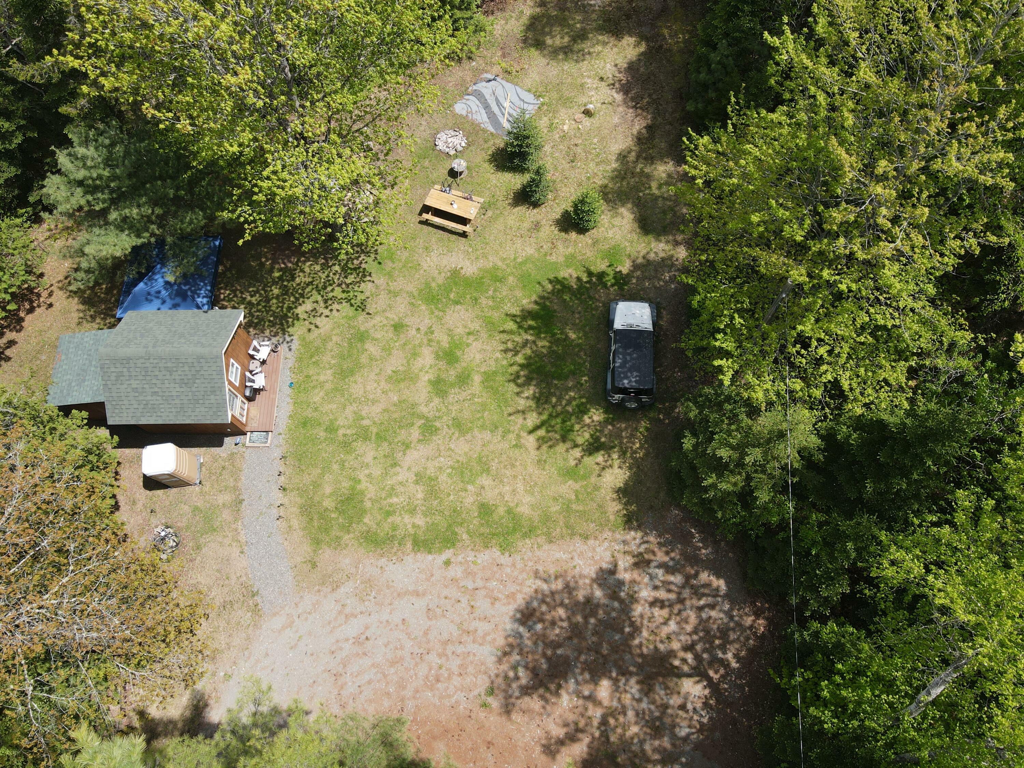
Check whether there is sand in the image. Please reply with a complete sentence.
No, no sand is visible.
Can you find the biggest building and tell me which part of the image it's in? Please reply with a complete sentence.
The biggest building sits in the left section of the image.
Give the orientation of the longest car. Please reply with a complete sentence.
The longest car has been laid out up and down relative to the frame.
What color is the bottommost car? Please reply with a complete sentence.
The bottommost car is black.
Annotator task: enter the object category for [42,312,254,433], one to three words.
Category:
building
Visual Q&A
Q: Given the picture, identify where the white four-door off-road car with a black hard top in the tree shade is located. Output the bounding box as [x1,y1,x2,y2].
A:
[604,297,662,411]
